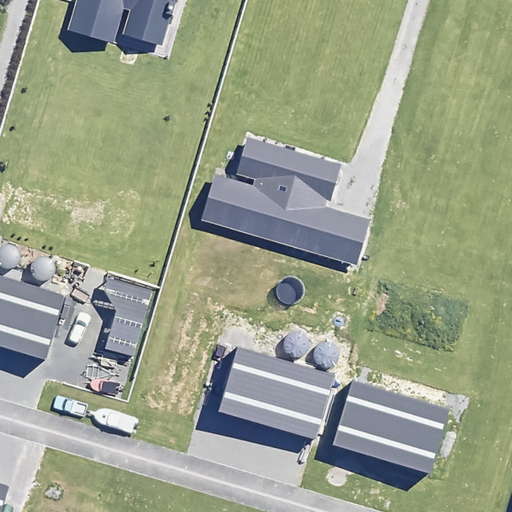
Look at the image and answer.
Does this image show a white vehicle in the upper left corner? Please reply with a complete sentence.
No, no white vehicle is visible in the upper left corner.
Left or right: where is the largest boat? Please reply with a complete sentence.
It is on the left.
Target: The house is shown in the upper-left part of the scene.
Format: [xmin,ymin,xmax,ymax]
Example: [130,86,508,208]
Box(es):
[64,0,186,58]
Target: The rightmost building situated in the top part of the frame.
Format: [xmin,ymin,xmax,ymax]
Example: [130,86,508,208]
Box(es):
[201,137,370,266]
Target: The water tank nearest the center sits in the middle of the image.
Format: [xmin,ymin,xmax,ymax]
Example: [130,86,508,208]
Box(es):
[276,275,305,305]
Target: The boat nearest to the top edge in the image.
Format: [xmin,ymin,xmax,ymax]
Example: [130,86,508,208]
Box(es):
[86,381,122,396]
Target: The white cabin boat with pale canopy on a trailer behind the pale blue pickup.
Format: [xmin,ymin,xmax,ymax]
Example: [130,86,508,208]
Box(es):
[92,408,140,432]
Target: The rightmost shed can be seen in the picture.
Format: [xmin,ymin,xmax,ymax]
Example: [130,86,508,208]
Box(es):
[332,380,450,474]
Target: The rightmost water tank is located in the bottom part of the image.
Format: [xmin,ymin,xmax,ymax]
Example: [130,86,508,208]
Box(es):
[313,342,339,369]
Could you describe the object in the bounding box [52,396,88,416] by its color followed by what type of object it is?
white vehicle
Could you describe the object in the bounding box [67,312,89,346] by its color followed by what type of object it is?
white car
